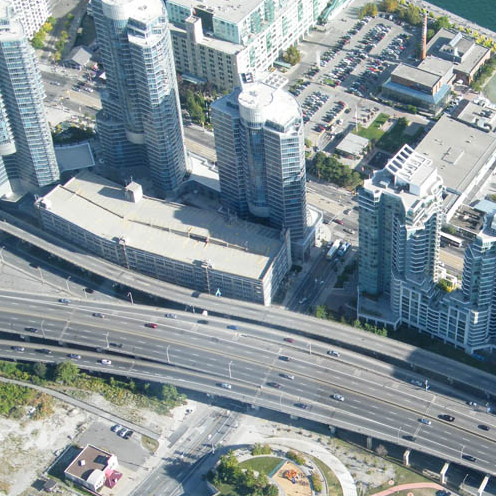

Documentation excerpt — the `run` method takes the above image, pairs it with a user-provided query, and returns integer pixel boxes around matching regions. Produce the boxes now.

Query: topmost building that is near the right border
[422,28,493,81]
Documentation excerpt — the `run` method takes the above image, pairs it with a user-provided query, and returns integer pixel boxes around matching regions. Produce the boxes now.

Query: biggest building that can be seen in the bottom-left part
[65,443,121,490]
